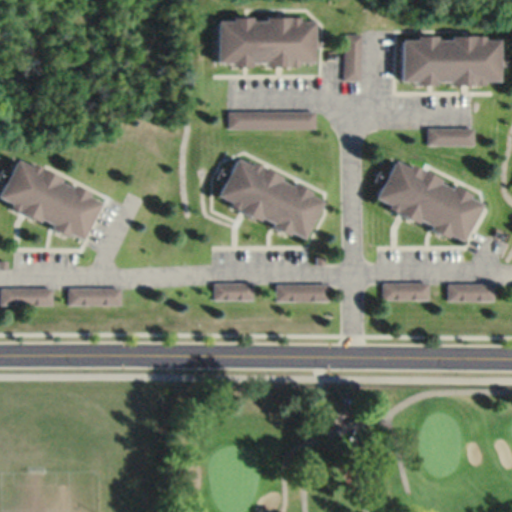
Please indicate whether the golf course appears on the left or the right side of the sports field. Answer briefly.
to its right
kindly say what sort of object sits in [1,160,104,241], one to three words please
building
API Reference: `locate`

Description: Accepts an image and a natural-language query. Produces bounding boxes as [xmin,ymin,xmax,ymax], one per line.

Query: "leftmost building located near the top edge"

[218,16,318,71]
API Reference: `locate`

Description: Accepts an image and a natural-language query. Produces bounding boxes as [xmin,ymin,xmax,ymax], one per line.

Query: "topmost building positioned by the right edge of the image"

[402,36,504,90]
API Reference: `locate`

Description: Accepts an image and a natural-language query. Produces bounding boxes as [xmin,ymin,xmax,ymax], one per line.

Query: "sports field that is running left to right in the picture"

[0,472,101,512]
